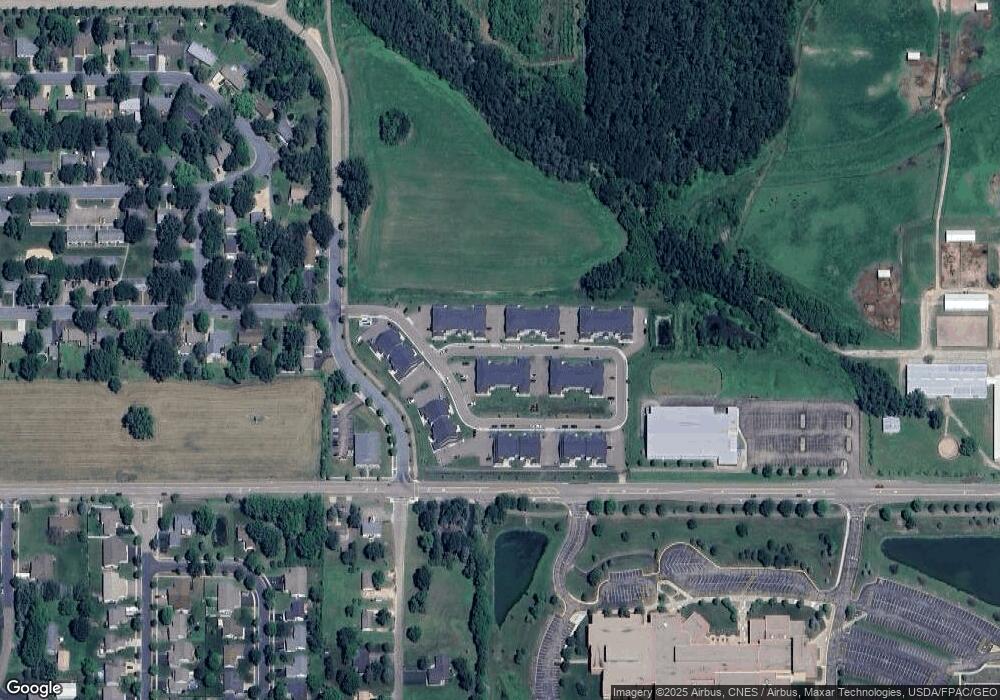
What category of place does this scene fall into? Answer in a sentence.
It's a residential area.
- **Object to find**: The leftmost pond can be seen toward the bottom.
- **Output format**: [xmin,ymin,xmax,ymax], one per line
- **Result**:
[495,530,548,625]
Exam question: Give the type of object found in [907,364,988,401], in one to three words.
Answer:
building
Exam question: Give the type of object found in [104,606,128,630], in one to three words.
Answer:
house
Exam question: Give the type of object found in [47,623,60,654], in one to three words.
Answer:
shed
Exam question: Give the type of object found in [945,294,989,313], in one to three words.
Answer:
barn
